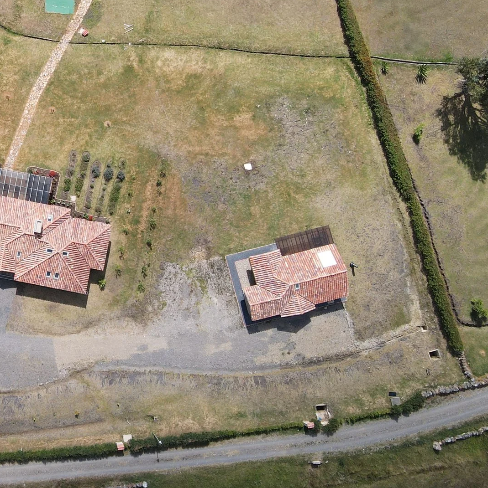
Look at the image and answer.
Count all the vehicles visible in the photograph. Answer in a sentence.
I count no vehicles.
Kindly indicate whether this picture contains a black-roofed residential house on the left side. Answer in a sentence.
No, the scene shows no black-roofed residential house on the left side.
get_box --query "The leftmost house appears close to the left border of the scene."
[0,196,113,295]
